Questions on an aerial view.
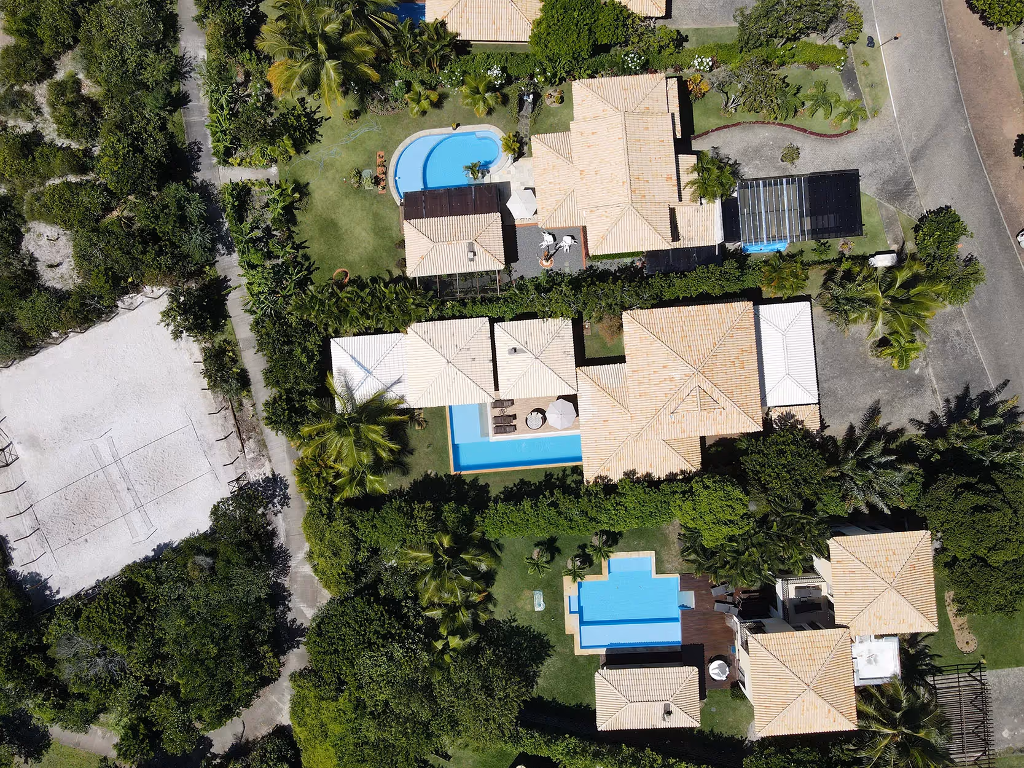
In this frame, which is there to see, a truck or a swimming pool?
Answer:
swimming pool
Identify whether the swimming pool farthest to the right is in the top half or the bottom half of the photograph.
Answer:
bottom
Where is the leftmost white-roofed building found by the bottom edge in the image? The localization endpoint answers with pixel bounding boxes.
[594,664,702,732]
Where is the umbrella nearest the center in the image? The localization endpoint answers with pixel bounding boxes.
[545,398,577,430]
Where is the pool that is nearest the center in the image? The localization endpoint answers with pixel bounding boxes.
[449,372,583,474]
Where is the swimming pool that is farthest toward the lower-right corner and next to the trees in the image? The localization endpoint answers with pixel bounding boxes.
[563,550,695,655]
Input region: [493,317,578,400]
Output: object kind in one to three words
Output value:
building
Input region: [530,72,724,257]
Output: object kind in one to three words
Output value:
house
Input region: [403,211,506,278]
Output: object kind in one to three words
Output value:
building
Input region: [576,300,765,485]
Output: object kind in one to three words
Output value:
house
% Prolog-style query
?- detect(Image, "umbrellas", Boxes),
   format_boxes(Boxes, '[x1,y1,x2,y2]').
[504,187,537,220]
[545,398,577,430]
